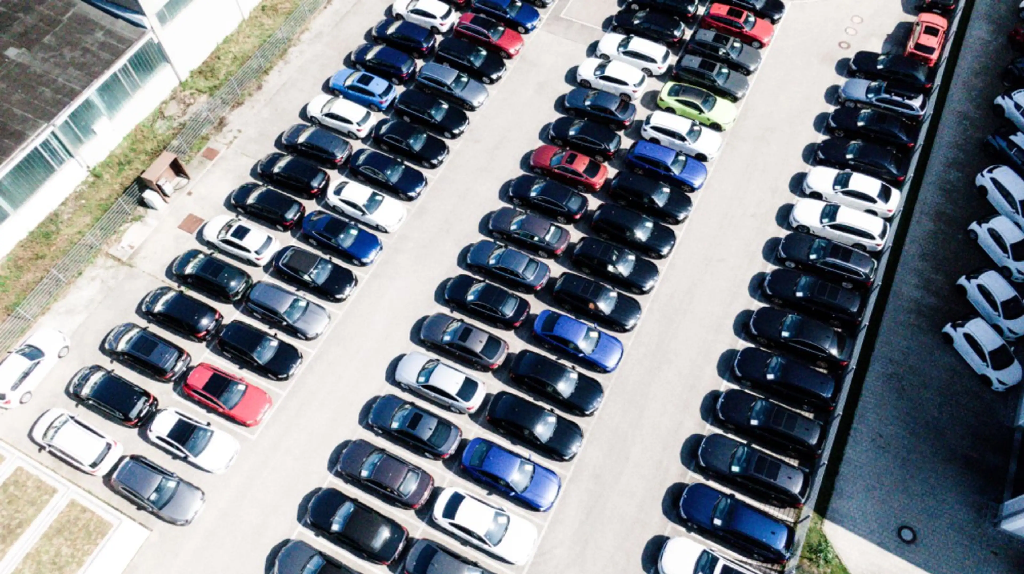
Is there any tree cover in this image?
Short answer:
No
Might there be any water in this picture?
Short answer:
No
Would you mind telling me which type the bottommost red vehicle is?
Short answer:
car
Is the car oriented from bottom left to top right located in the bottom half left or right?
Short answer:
left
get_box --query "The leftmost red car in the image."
[175,358,274,429]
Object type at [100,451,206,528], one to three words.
car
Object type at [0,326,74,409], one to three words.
car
